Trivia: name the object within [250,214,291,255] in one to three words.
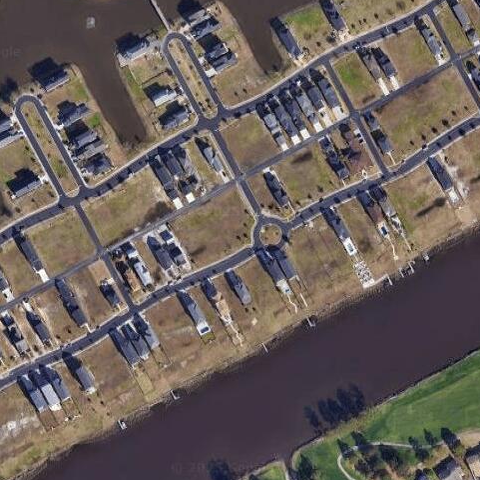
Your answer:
roundabout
